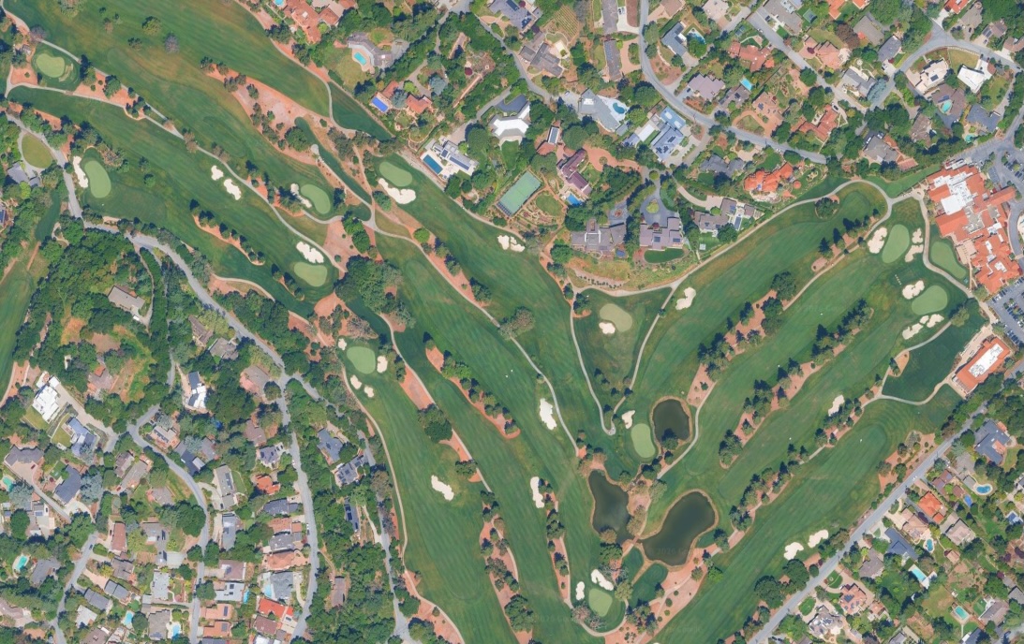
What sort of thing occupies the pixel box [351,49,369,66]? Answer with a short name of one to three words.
swimming pool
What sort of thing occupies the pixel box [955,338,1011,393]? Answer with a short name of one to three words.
building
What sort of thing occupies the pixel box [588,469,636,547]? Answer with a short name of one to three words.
pond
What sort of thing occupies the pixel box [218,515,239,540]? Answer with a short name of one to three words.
house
